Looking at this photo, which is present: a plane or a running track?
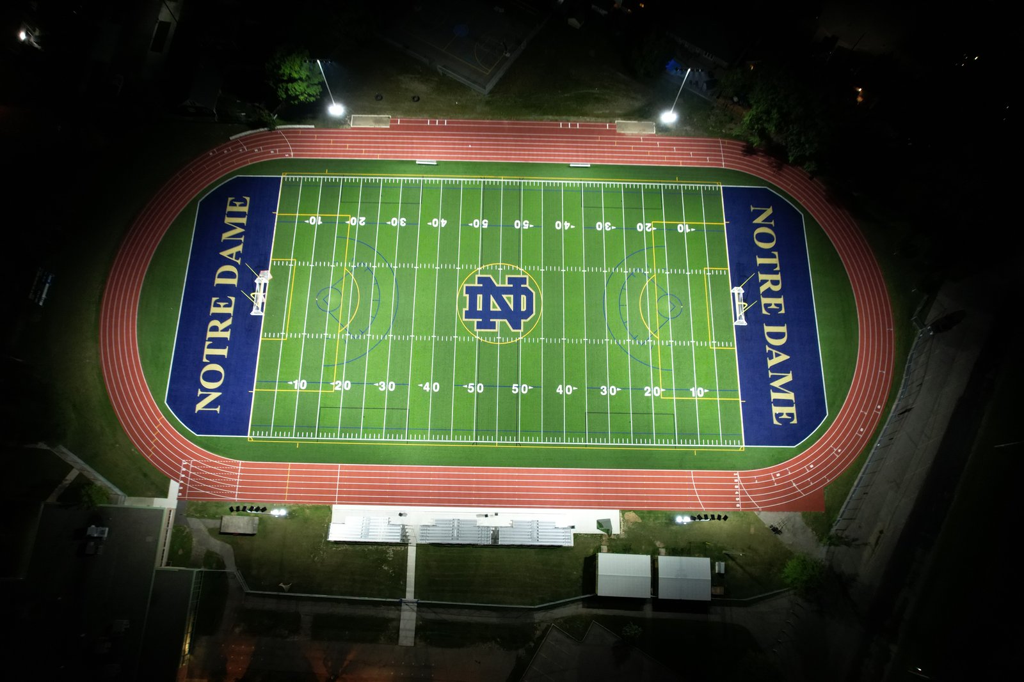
running track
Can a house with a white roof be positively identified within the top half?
No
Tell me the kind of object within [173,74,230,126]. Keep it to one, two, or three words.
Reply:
house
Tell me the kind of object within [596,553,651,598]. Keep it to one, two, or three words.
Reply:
shed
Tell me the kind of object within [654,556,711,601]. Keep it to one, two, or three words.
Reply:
shed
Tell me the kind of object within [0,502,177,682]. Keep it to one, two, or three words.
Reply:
building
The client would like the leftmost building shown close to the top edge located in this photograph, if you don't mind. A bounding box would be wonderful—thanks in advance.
[3,1,65,57]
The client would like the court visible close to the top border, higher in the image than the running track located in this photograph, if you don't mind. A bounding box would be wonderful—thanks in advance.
[377,0,551,92]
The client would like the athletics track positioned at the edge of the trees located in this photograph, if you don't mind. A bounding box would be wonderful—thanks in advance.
[94,117,898,512]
